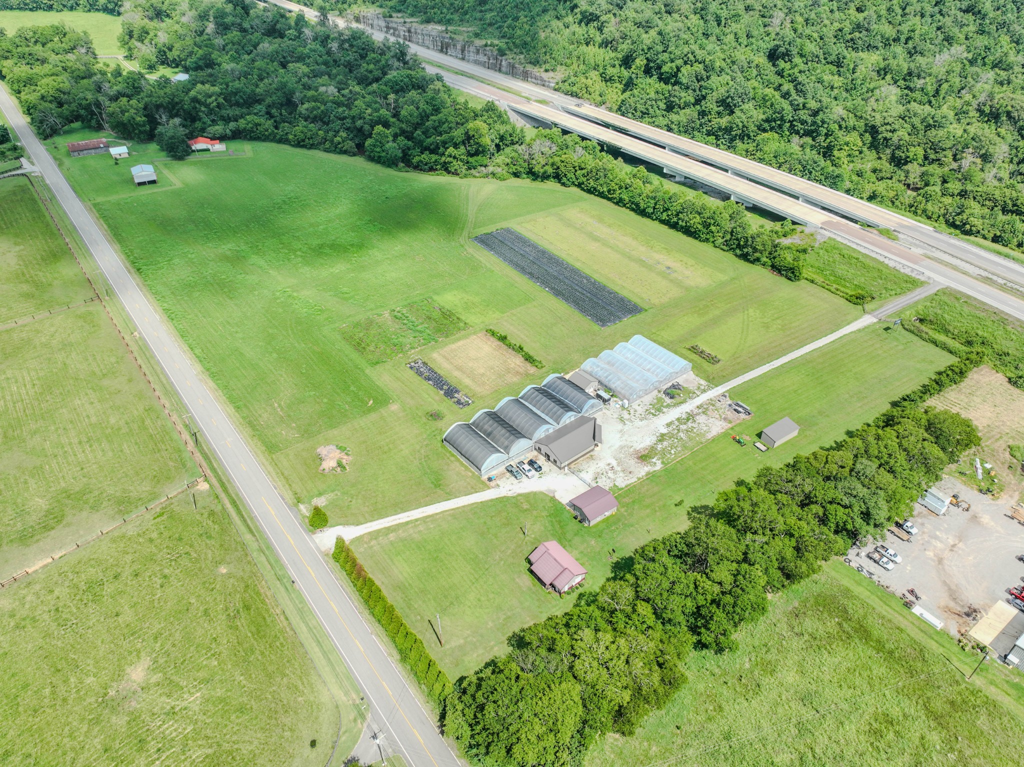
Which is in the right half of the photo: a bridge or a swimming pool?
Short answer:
bridge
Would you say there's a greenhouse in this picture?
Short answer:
Yes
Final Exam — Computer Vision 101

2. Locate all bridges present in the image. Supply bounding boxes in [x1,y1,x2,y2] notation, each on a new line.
[535,94,873,217]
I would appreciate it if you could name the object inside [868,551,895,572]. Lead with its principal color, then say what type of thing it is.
white truck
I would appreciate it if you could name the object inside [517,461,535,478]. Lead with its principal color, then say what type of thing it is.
white vehicle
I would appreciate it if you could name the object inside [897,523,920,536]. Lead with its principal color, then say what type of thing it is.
white vehicle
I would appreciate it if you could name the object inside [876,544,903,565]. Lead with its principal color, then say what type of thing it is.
white truck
